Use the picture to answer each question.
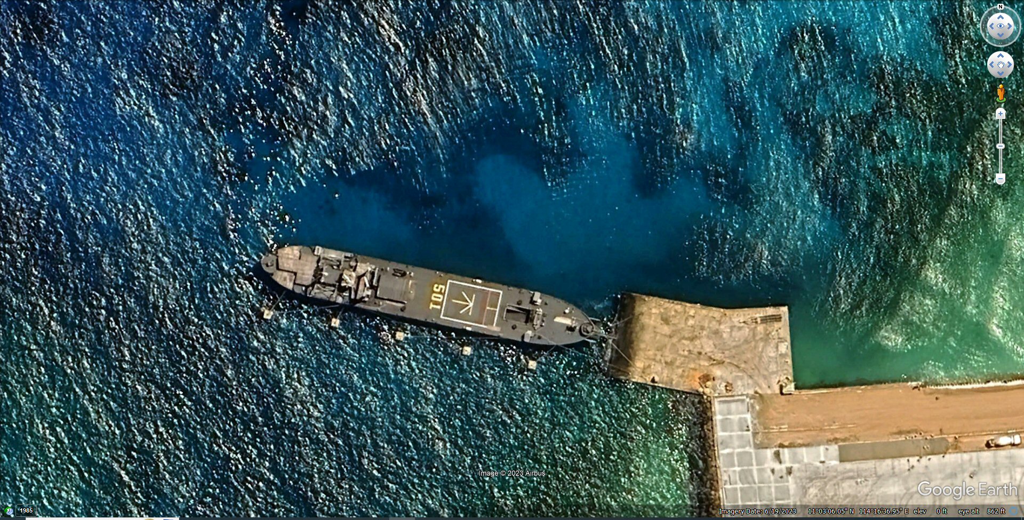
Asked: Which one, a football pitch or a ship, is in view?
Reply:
ship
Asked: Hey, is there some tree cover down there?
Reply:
No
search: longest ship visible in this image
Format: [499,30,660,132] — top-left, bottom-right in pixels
[261,245,617,345]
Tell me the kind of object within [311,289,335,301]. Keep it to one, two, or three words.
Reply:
boat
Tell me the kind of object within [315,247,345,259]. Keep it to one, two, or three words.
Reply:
boat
